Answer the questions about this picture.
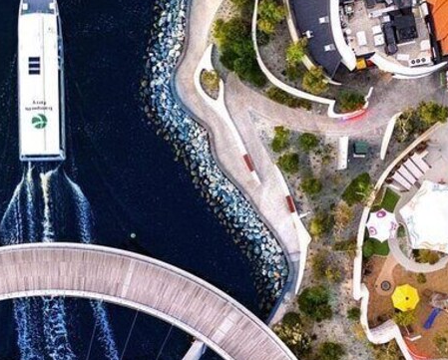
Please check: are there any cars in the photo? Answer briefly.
No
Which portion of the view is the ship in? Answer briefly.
top left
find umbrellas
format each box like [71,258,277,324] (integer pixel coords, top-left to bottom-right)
[366,210,397,240]
[391,284,416,310]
